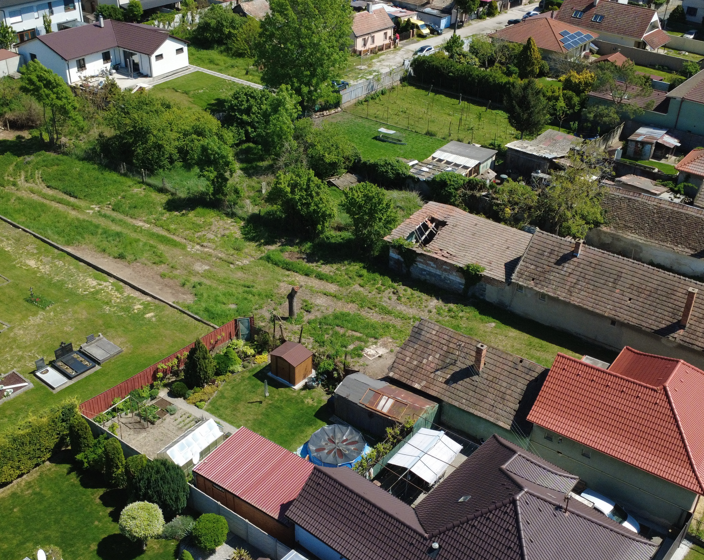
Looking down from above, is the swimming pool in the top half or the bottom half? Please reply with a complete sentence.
The bottom half of the photo is where the swimming pool is.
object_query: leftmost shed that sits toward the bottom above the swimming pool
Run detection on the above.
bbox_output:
[266,342,321,395]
